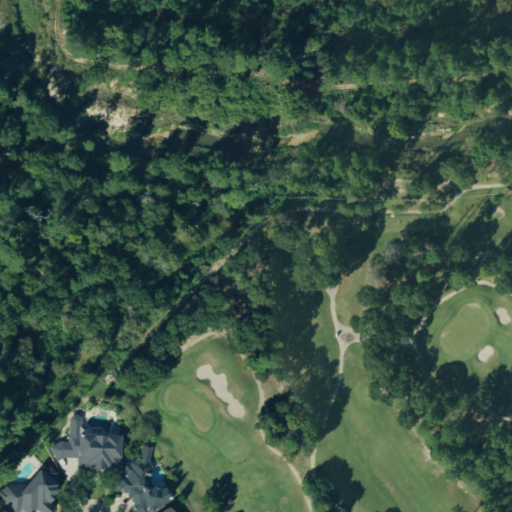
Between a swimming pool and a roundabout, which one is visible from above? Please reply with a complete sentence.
There is a swimming pool in the scene.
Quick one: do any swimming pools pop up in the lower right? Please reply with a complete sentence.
No, no swimming pool is visible in the lower right.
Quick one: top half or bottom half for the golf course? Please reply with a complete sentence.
The golf course sits in the bottom half of the picture.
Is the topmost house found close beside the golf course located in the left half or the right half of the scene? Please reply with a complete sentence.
The topmost house found close beside the golf course sits on the left side.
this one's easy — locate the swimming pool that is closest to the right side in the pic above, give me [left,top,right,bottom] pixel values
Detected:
[150,462,168,490]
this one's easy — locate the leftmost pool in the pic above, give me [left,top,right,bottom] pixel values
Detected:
[14,454,42,486]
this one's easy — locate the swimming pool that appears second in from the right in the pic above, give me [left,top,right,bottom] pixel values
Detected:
[83,407,117,433]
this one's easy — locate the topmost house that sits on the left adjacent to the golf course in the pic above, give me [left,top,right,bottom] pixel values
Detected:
[50,409,124,471]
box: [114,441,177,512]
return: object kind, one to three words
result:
house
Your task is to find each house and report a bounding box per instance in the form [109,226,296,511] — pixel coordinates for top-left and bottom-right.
[114,441,177,512]
[0,470,66,512]
[50,409,124,471]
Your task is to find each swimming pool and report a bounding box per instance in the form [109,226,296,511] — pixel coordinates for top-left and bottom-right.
[83,407,117,433]
[150,462,168,490]
[14,454,42,486]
